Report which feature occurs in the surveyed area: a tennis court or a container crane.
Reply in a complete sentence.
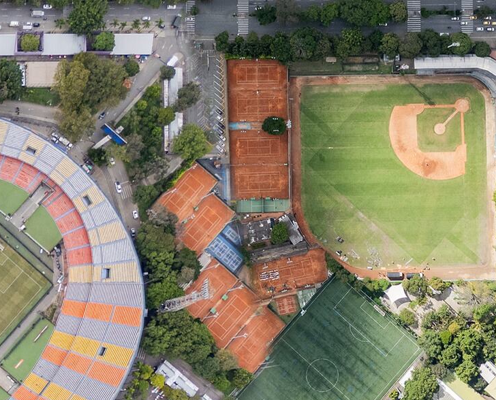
Looking from above, you can make out a tennis court.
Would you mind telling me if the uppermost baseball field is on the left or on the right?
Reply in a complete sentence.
You can find the uppermost baseball field on the right side of the picture.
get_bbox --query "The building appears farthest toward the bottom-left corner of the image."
[155,359,200,397]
